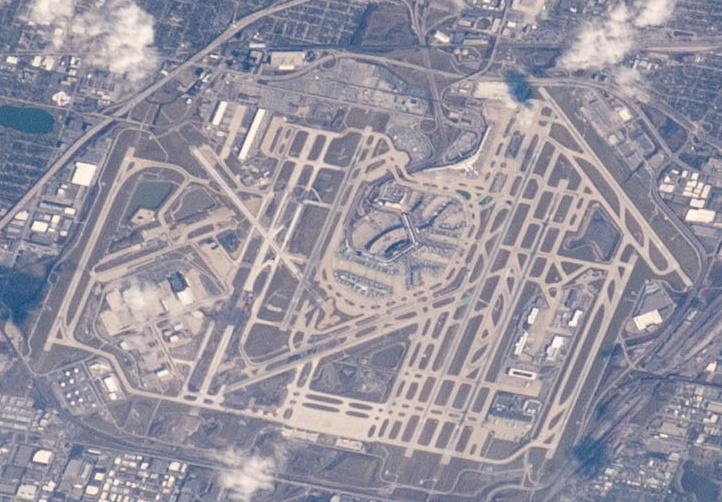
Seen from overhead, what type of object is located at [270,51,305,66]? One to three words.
building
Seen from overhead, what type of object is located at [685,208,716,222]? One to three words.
building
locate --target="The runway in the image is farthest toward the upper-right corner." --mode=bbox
[537,84,694,286]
